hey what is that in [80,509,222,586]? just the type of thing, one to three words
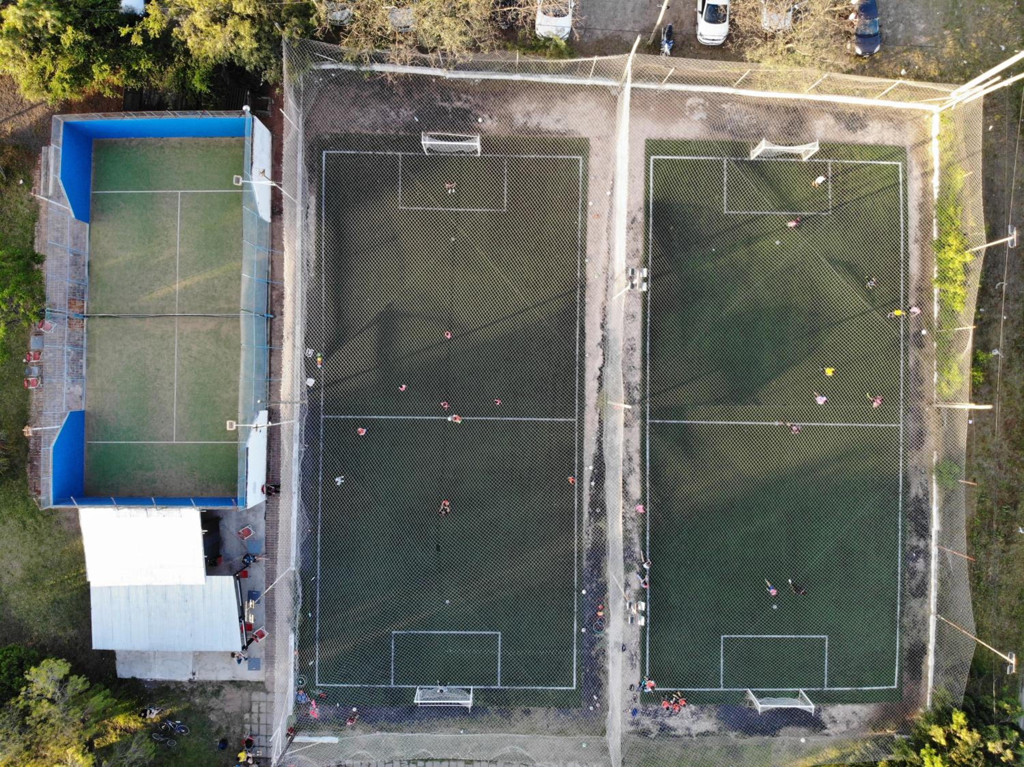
building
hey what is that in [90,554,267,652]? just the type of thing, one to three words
building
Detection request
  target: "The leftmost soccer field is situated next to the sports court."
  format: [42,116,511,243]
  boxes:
[296,134,589,708]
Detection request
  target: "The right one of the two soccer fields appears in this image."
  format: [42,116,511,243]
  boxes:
[640,139,907,705]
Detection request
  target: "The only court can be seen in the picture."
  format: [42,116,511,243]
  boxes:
[35,107,274,512]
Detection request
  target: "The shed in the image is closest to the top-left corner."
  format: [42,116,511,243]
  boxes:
[123,73,262,120]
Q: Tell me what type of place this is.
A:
sports ground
